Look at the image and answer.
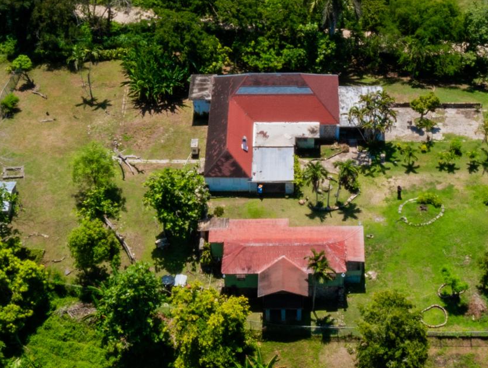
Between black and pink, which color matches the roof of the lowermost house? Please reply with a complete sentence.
The roof of the lowermost house is pink.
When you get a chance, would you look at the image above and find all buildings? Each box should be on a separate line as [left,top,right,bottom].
[189,72,383,201]
[200,216,366,322]
[0,181,18,222]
